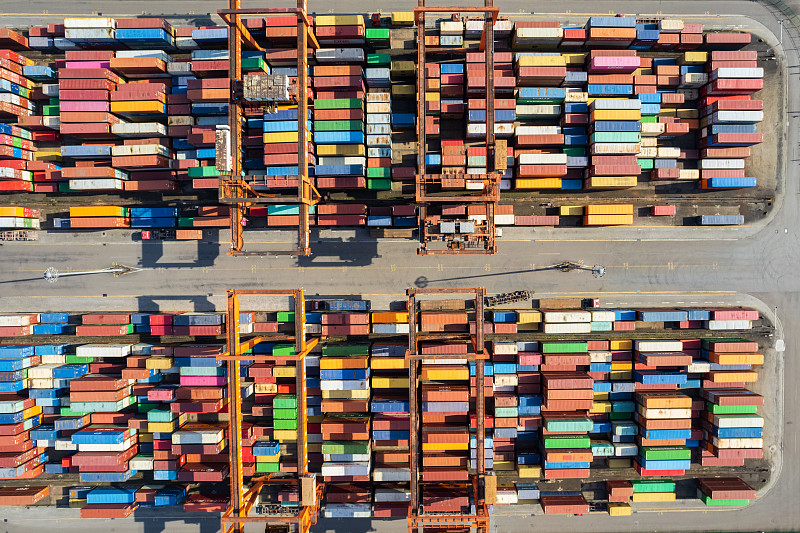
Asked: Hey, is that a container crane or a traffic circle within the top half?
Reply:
container crane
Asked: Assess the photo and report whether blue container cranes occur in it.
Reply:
No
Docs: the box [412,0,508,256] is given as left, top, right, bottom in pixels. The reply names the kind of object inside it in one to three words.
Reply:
container crane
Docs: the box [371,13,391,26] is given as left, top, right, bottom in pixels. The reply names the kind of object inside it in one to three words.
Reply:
vehicle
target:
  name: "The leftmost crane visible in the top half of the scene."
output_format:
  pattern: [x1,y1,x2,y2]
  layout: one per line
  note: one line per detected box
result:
[209,0,327,256]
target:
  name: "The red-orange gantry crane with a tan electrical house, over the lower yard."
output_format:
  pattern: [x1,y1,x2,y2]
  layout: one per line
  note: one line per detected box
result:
[405,289,499,533]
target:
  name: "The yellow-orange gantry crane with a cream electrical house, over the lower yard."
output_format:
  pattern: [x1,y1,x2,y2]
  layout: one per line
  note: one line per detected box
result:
[211,290,326,533]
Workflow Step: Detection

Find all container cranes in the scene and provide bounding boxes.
[209,0,327,256]
[405,289,499,533]
[412,0,508,256]
[211,290,326,533]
